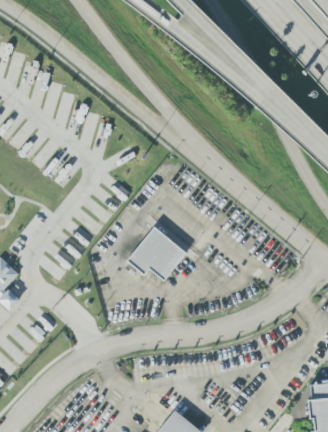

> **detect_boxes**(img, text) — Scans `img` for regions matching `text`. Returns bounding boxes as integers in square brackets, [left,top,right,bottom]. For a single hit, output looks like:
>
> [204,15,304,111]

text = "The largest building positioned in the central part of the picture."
[128,227,186,280]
